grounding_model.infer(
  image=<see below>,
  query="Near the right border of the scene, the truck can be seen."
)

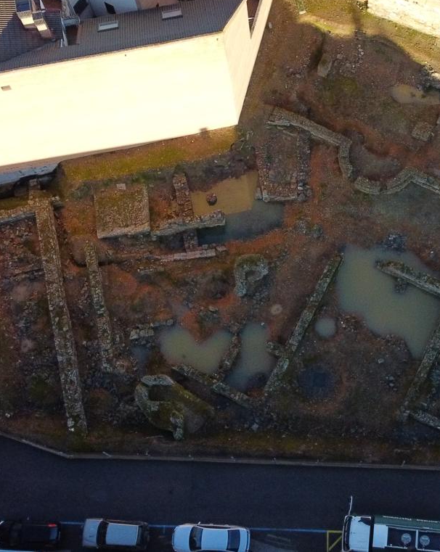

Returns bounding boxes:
[338,494,440,552]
